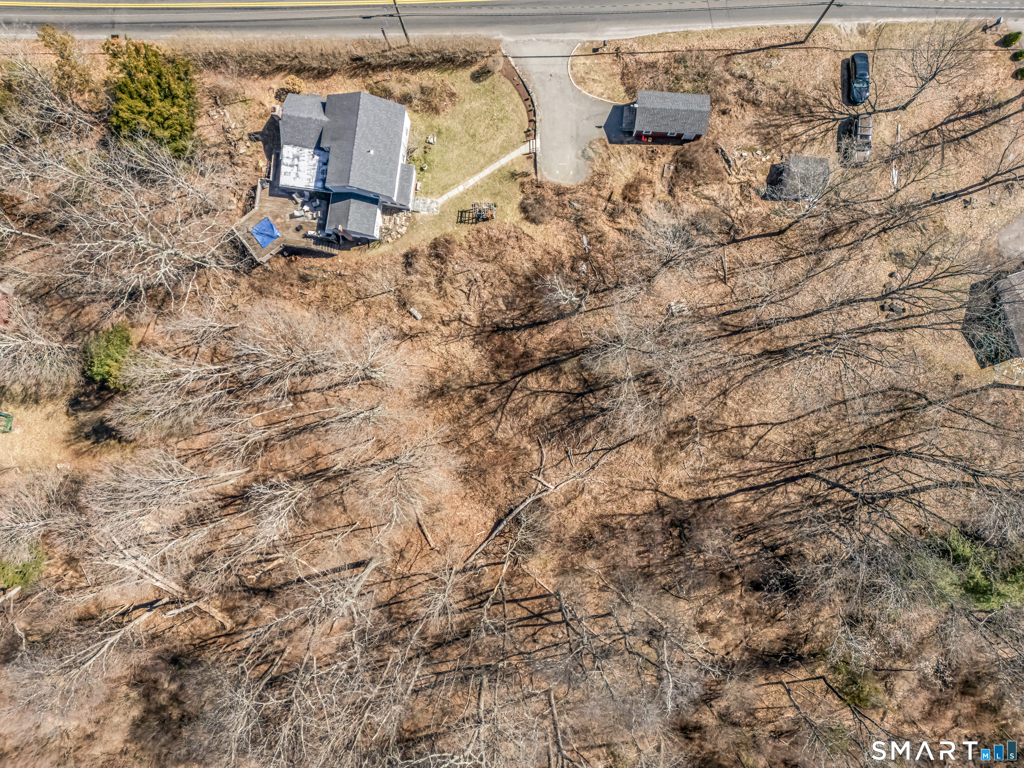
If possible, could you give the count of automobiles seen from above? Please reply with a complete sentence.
I count 2 automobiles.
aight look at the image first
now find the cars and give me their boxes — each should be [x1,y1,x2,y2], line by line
[847,115,876,168]
[845,53,874,107]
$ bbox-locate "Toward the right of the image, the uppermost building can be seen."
[619,91,713,144]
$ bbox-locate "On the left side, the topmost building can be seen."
[270,89,417,243]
